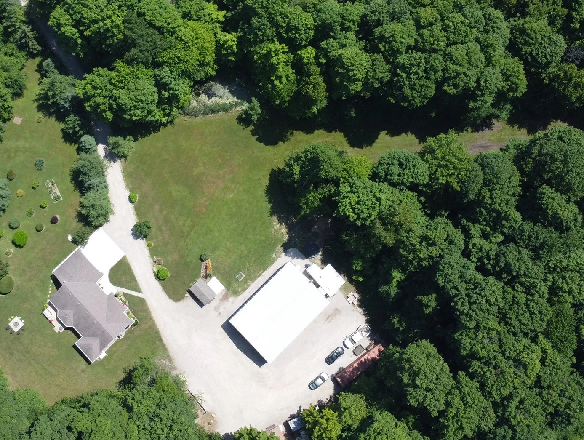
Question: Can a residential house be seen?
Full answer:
Yes, the photo shows a residential house.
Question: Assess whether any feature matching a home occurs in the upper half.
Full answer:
No, there's no home to be seen in the upper half.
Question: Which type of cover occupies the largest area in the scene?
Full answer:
The largest share of the image is taken up by trees.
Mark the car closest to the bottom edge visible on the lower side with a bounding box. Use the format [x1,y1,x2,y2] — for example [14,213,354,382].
[307,371,331,393]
